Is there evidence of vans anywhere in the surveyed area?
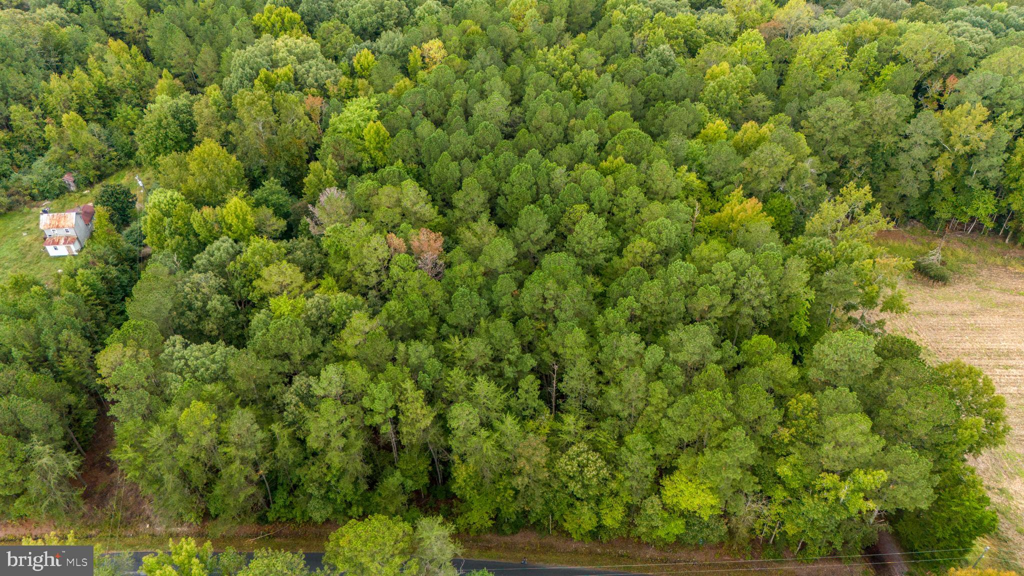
No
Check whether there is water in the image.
No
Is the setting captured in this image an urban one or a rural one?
rural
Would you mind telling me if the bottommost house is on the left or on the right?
left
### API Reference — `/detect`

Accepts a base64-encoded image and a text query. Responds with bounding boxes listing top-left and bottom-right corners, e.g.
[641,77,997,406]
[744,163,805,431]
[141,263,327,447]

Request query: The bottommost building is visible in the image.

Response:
[42,202,100,258]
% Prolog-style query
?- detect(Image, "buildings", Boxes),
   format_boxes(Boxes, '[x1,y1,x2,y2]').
[42,202,100,258]
[55,176,80,195]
